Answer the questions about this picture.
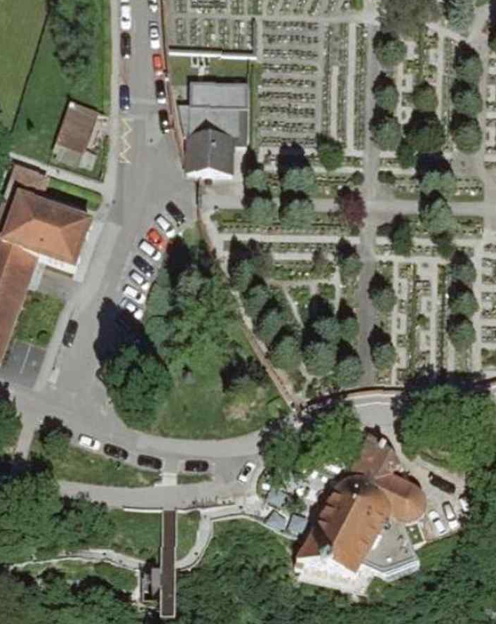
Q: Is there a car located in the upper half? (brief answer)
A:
Yes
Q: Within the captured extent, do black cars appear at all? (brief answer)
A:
Yes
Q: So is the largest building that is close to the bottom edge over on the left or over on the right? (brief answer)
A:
right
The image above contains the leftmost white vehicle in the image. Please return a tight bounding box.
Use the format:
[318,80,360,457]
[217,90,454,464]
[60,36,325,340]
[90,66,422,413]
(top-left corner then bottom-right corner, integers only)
[78,436,99,449]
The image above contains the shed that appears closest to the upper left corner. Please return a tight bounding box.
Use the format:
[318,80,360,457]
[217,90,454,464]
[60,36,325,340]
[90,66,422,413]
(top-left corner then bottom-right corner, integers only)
[57,101,97,158]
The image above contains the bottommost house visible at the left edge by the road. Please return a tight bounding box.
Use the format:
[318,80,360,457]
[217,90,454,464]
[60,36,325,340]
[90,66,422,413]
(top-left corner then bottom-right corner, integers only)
[0,162,92,363]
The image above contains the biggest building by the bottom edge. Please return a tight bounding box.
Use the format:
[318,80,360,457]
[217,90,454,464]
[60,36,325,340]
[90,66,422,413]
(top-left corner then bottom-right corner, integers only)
[296,434,425,596]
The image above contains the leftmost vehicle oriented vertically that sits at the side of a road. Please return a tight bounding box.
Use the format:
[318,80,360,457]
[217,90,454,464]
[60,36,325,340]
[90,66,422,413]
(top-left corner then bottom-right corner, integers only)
[64,320,77,345]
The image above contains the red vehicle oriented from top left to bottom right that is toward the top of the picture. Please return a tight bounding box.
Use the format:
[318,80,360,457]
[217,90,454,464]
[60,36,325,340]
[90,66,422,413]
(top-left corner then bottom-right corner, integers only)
[147,229,165,248]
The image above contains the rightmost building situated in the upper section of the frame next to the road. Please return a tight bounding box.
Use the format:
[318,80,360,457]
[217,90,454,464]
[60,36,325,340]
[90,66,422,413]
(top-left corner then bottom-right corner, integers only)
[179,81,249,196]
